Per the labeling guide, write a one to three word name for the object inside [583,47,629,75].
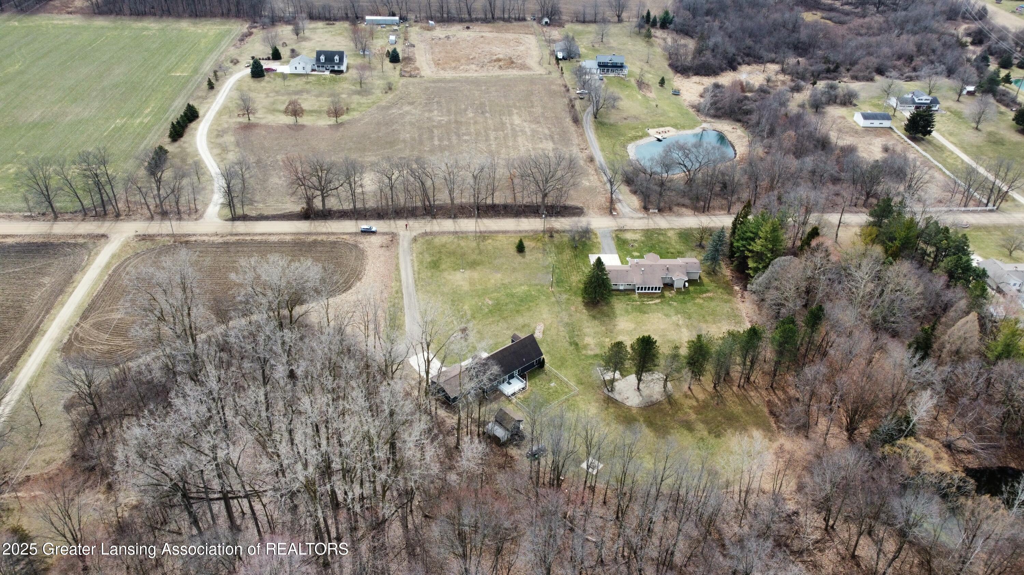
house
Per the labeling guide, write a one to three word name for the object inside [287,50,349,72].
house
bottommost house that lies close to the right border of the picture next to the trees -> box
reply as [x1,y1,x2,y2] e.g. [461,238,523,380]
[975,256,1024,300]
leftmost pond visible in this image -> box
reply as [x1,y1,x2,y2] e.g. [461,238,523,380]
[635,130,735,176]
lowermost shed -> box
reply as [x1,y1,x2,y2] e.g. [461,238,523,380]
[486,408,523,441]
